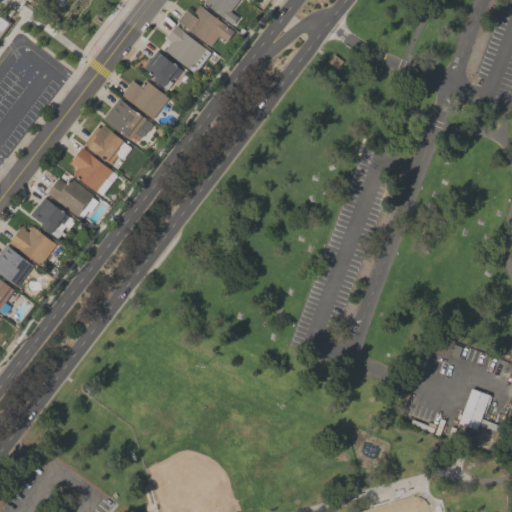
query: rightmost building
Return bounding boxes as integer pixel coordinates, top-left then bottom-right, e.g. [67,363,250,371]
[460,389,498,432]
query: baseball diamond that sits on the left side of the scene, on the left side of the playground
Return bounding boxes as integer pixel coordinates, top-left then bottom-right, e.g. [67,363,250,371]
[148,450,241,512]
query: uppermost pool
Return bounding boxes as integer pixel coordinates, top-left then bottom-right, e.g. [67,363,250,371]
[159,104,176,125]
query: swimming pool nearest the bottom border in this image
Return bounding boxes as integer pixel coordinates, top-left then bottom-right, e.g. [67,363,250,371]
[16,301,32,321]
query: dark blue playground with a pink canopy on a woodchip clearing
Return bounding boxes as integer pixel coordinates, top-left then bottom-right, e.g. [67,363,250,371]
[352,430,390,471]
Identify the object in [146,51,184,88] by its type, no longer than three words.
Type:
house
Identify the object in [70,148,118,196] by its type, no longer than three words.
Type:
house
